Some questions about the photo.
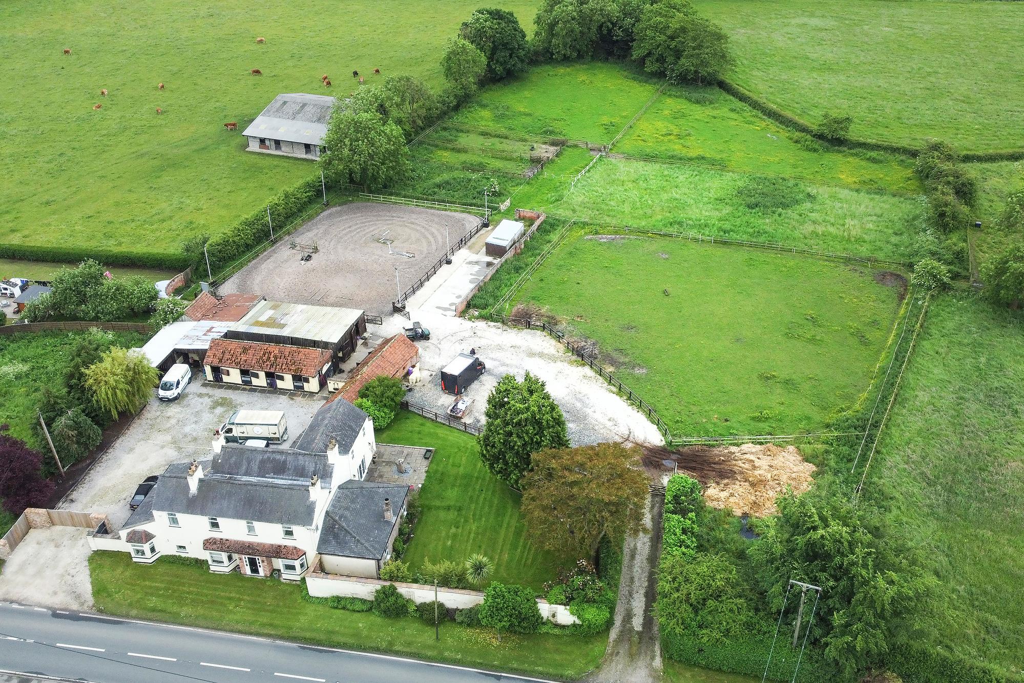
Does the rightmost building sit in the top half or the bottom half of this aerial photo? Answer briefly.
top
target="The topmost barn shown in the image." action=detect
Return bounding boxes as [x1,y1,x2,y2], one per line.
[240,85,355,163]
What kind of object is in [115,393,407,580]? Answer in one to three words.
house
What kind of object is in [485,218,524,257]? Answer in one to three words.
building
